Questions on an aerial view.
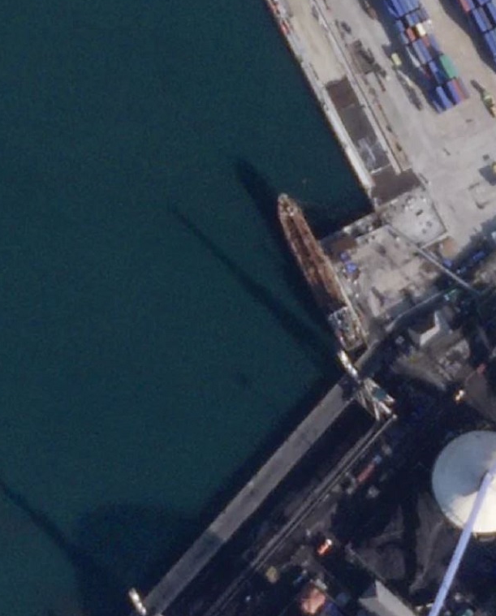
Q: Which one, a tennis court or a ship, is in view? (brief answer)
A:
ship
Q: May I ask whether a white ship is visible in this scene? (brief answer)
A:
No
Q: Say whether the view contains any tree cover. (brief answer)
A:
No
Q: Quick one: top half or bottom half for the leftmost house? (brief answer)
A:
bottom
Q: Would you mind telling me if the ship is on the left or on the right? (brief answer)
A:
right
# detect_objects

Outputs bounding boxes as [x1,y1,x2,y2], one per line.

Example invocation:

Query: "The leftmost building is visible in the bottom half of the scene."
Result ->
[302,588,325,612]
